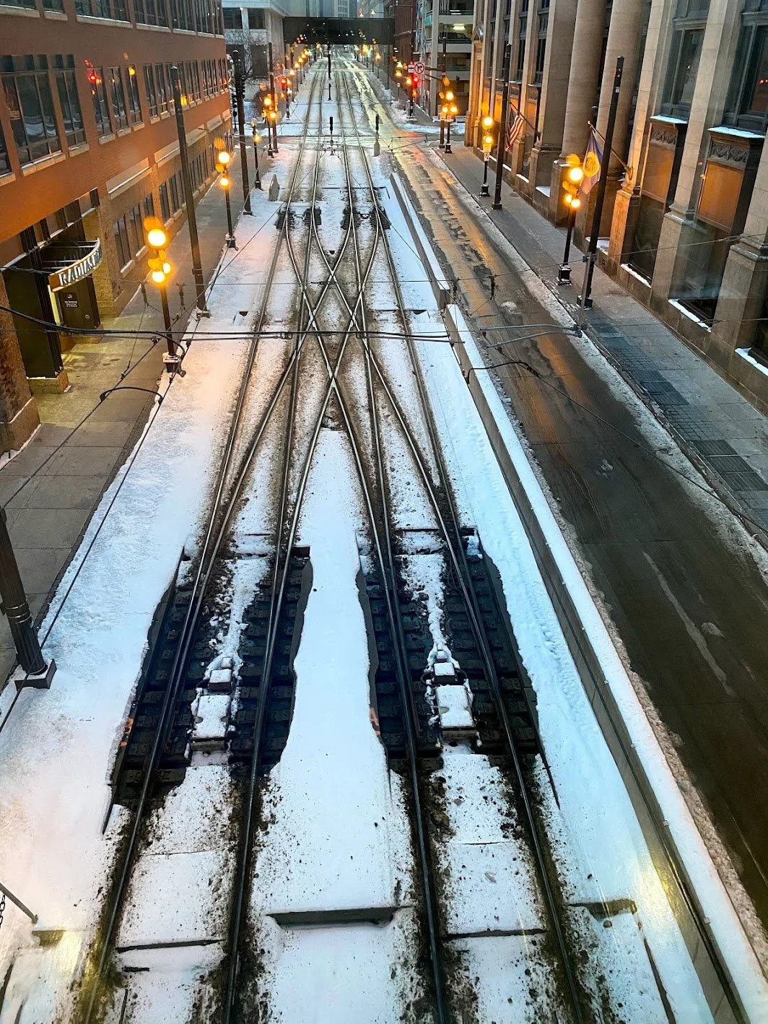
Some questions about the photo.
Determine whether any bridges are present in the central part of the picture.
No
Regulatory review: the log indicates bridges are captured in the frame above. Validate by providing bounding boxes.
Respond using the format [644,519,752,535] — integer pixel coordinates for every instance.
[282,17,398,45]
